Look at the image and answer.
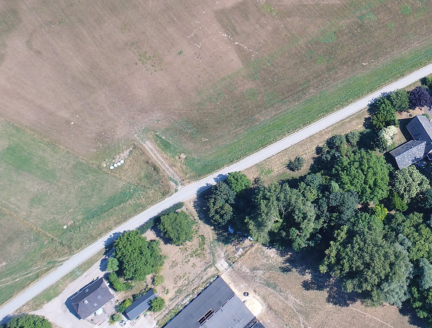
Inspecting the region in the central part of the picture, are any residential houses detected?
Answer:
No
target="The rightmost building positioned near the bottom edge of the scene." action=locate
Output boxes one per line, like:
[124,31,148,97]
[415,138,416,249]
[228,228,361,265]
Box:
[161,276,254,328]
